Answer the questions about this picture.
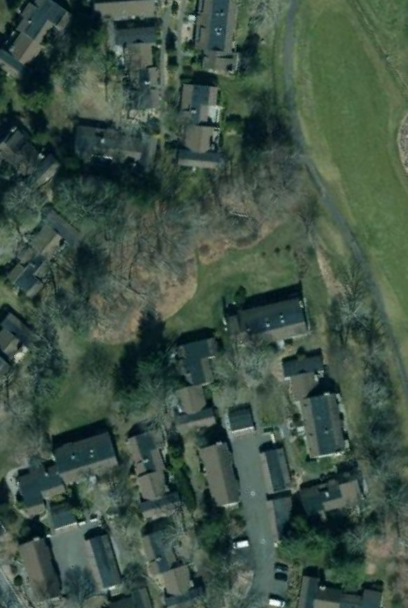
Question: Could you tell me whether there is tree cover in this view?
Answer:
Yes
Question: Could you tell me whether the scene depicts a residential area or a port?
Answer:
residential area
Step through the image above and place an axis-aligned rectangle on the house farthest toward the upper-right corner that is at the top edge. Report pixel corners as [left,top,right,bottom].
[196,0,239,77]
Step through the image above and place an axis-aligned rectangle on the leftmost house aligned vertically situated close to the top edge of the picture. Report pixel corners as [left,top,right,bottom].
[114,26,159,112]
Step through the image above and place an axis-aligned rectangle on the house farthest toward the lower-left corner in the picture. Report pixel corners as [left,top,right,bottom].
[19,536,60,604]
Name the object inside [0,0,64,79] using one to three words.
house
